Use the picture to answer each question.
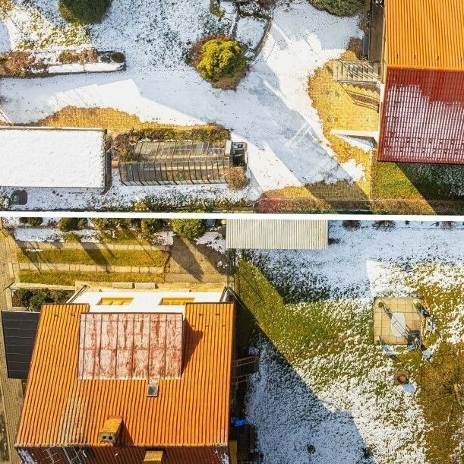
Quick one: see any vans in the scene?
No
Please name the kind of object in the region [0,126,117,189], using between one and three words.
building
